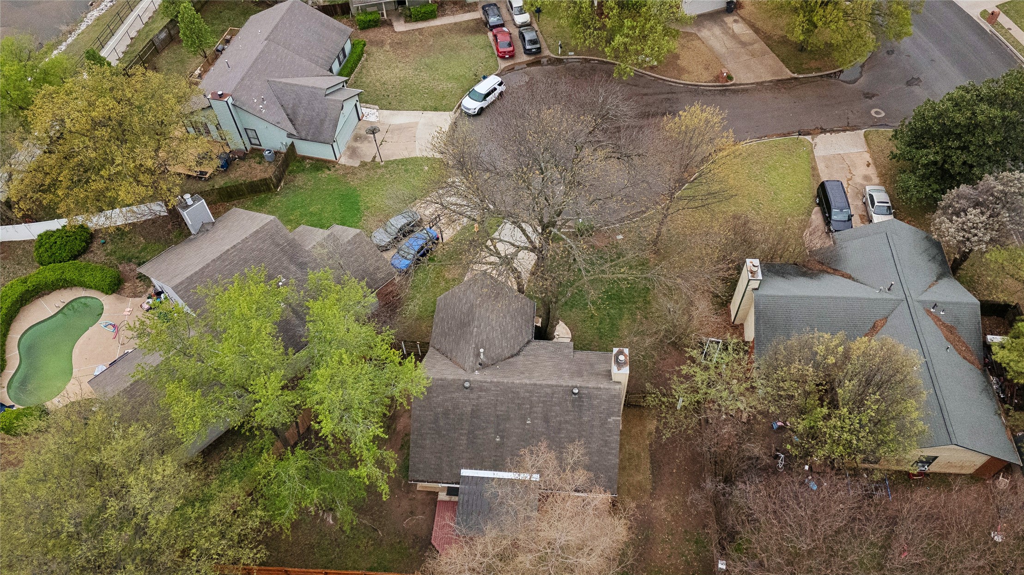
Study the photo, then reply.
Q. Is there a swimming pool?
Yes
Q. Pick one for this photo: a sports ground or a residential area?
residential area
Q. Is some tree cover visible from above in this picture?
Yes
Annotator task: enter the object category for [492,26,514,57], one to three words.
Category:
car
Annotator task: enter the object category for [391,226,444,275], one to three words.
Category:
car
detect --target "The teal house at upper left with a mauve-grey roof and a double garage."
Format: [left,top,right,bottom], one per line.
[184,0,364,161]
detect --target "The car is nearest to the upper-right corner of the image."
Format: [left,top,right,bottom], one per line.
[863,185,898,223]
